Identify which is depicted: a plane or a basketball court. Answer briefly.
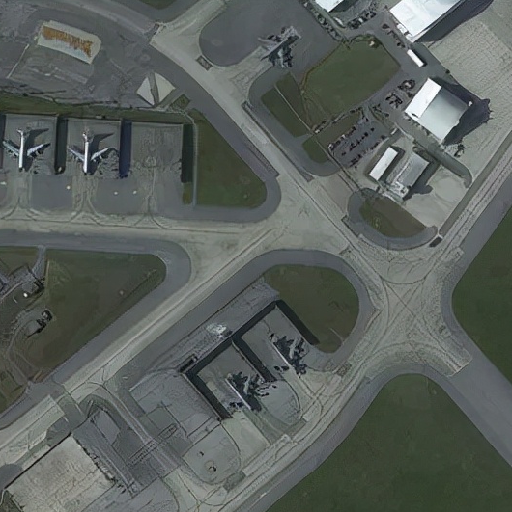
plane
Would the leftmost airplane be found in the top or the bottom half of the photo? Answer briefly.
top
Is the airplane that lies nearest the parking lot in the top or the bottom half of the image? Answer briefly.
top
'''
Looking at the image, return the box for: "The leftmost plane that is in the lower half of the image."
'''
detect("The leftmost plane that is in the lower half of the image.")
[216,371,253,410]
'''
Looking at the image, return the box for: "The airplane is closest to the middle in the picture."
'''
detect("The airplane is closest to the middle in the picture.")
[259,331,295,371]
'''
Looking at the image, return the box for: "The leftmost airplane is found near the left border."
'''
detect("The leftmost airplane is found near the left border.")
[2,130,42,170]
